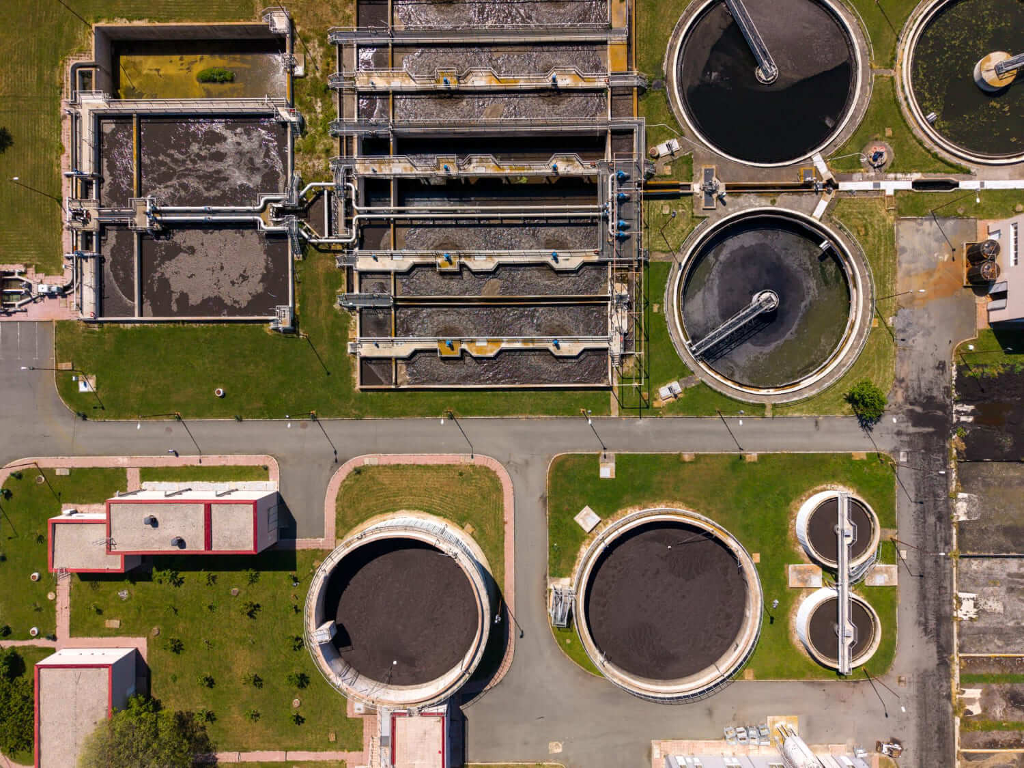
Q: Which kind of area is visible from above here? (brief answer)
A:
industrial area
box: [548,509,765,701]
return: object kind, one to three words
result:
storage tank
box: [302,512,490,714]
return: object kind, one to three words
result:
storage tank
